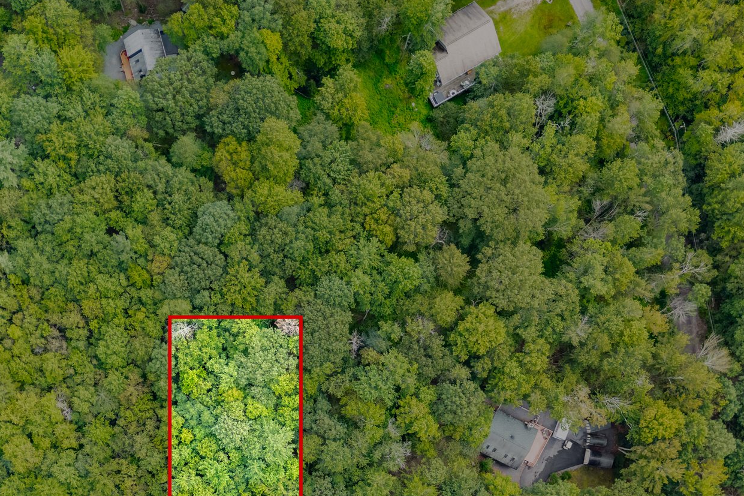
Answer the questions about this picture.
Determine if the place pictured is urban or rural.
rural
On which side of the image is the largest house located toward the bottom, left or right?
right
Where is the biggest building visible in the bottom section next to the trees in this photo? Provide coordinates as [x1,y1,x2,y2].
[478,406,553,488]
